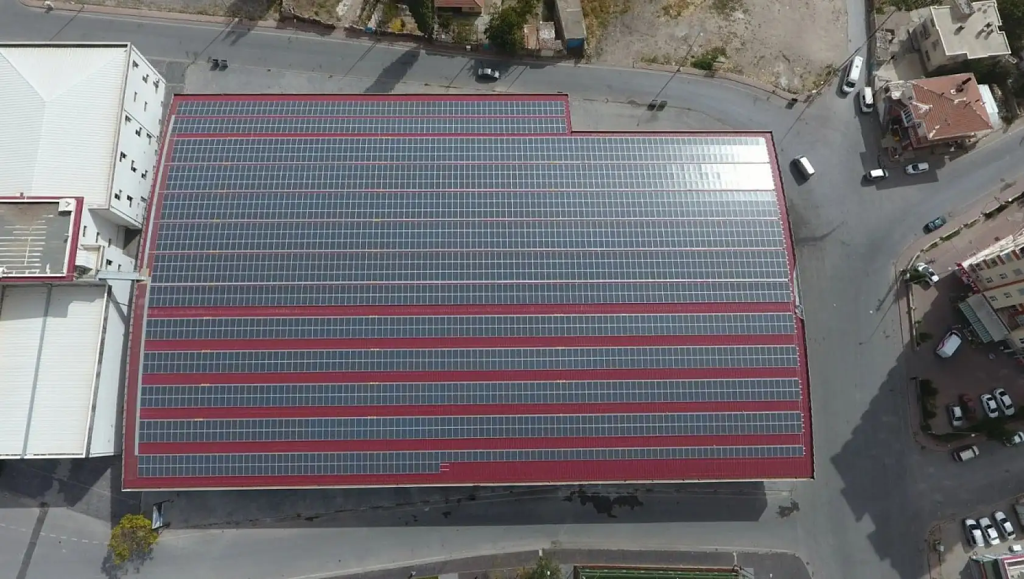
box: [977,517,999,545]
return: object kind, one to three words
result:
car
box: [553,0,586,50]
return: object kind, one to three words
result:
shed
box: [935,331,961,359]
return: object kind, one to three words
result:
vehicle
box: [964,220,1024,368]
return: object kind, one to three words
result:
building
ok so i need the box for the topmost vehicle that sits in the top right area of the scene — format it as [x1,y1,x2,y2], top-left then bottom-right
[841,54,866,92]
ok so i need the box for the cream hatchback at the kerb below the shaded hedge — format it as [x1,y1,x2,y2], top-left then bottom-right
[950,445,980,461]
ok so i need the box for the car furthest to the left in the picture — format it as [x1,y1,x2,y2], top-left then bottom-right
[477,67,500,81]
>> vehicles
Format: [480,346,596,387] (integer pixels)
[903,163,930,177]
[946,402,964,427]
[935,331,961,359]
[865,170,887,182]
[920,215,948,234]
[962,519,985,547]
[993,510,1015,540]
[841,54,866,92]
[860,87,874,113]
[477,67,500,81]
[993,389,1013,415]
[792,156,817,182]
[1013,500,1024,528]
[977,517,999,545]
[958,394,977,421]
[979,394,999,418]
[950,445,980,461]
[917,262,941,286]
